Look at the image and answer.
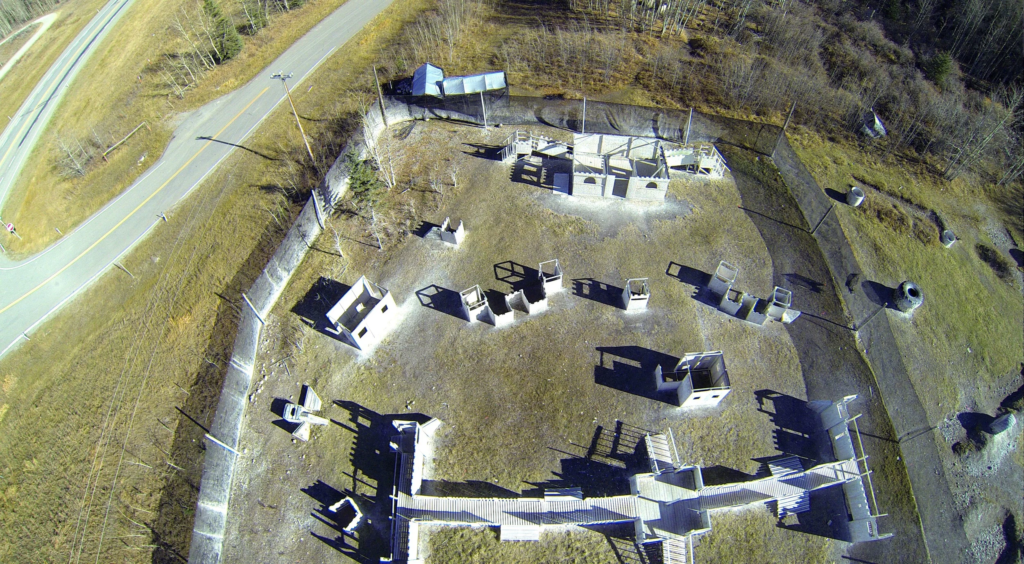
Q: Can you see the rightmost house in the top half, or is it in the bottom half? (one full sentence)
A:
The rightmost house is in the bottom half of the image.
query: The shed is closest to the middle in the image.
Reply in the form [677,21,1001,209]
[440,218,465,245]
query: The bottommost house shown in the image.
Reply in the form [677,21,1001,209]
[654,355,731,408]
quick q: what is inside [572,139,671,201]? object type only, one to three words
house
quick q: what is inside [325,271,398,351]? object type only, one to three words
house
